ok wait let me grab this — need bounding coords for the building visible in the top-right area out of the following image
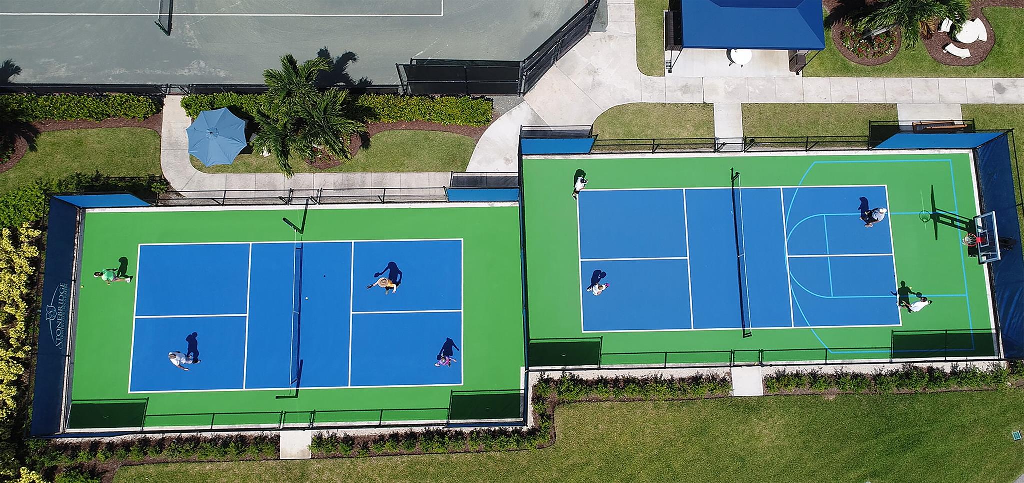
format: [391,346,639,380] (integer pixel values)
[666,0,825,76]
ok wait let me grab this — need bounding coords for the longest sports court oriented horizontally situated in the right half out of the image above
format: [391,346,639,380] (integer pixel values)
[523,148,998,370]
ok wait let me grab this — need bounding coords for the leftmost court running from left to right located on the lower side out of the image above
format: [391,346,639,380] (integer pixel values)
[62,201,526,432]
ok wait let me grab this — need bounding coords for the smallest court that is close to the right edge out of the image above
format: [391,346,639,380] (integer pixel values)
[785,159,974,353]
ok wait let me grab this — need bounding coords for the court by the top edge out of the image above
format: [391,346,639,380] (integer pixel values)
[0,0,608,125]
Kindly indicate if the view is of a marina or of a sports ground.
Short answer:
sports ground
